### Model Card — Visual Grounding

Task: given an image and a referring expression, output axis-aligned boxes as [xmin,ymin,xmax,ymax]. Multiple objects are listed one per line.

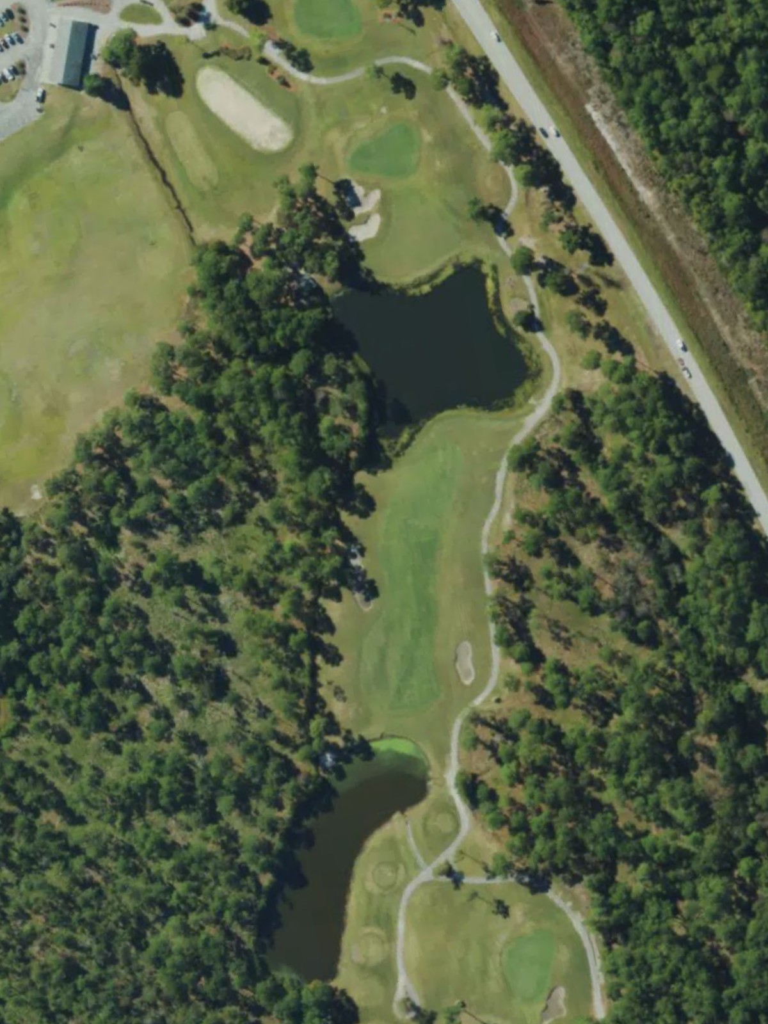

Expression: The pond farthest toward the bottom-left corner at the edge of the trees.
[266,762,428,980]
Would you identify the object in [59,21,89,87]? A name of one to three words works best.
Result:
building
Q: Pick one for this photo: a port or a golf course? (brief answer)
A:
golf course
